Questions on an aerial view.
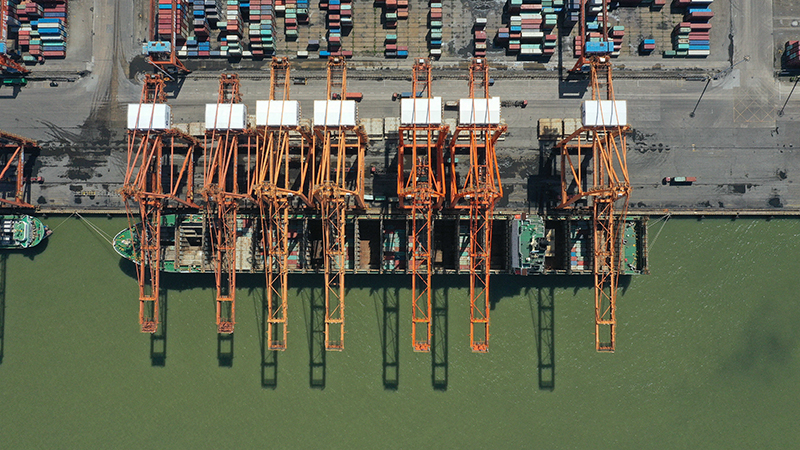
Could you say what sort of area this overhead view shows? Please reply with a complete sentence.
This image shows a port.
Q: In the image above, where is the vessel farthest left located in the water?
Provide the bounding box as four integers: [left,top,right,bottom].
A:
[0,213,52,247]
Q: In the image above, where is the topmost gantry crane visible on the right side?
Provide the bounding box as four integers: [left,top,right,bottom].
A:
[563,0,613,74]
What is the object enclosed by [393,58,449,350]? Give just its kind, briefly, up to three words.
container crane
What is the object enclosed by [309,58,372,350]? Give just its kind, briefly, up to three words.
container crane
